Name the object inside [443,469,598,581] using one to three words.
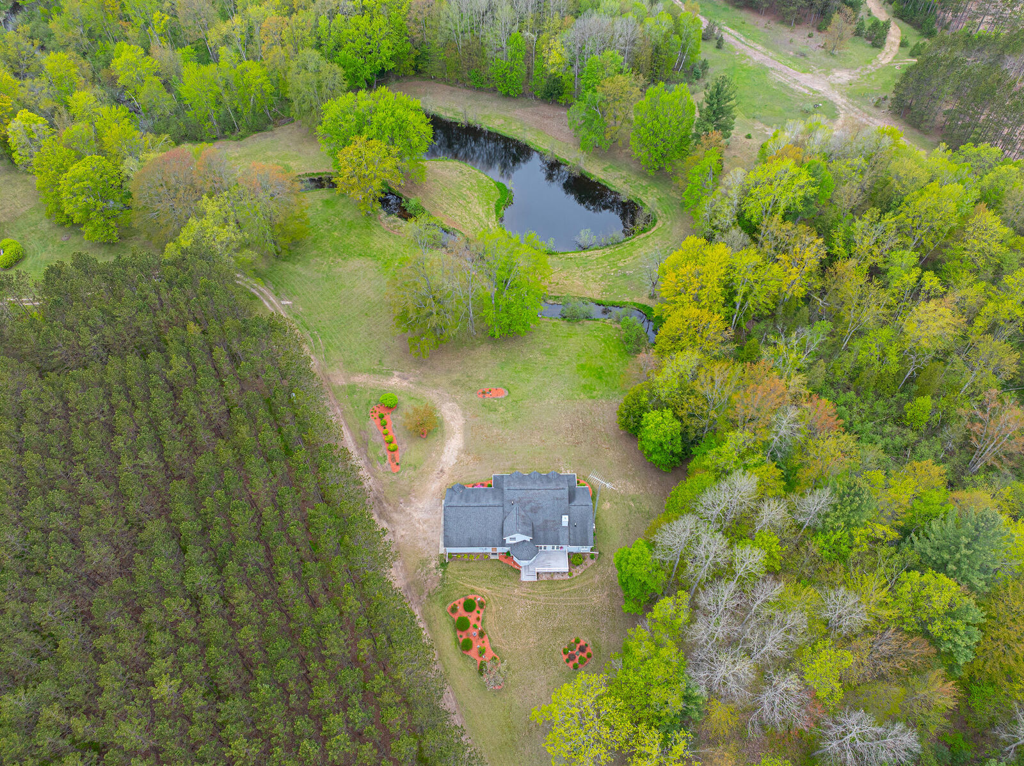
house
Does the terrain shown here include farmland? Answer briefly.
No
